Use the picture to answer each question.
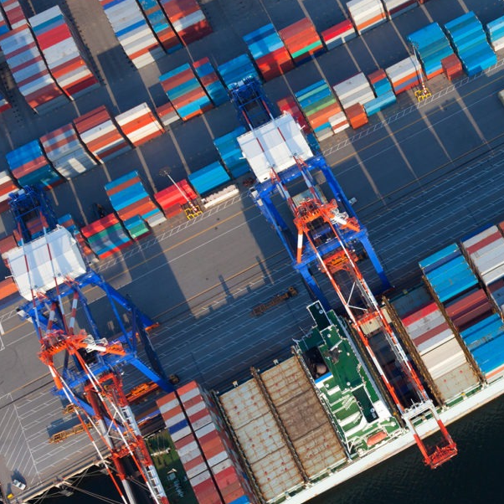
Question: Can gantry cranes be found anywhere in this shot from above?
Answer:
Yes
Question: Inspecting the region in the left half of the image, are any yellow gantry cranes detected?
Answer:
No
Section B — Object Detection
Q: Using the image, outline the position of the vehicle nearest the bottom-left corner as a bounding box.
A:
[9,477,26,489]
